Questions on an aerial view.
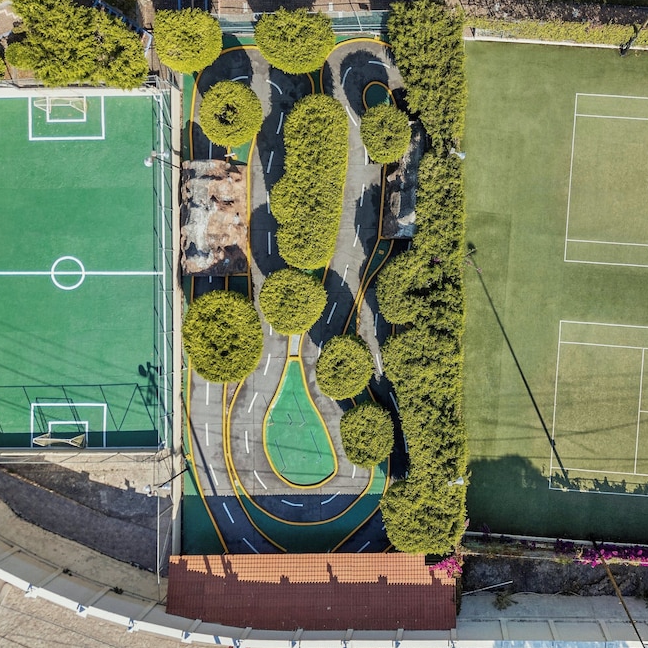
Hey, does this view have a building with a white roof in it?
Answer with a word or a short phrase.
No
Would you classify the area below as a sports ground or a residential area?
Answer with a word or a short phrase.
sports ground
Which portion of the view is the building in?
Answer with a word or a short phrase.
bottom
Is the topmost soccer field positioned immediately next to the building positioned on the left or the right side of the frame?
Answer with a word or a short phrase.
left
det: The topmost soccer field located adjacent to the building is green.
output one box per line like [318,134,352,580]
[0,94,172,444]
